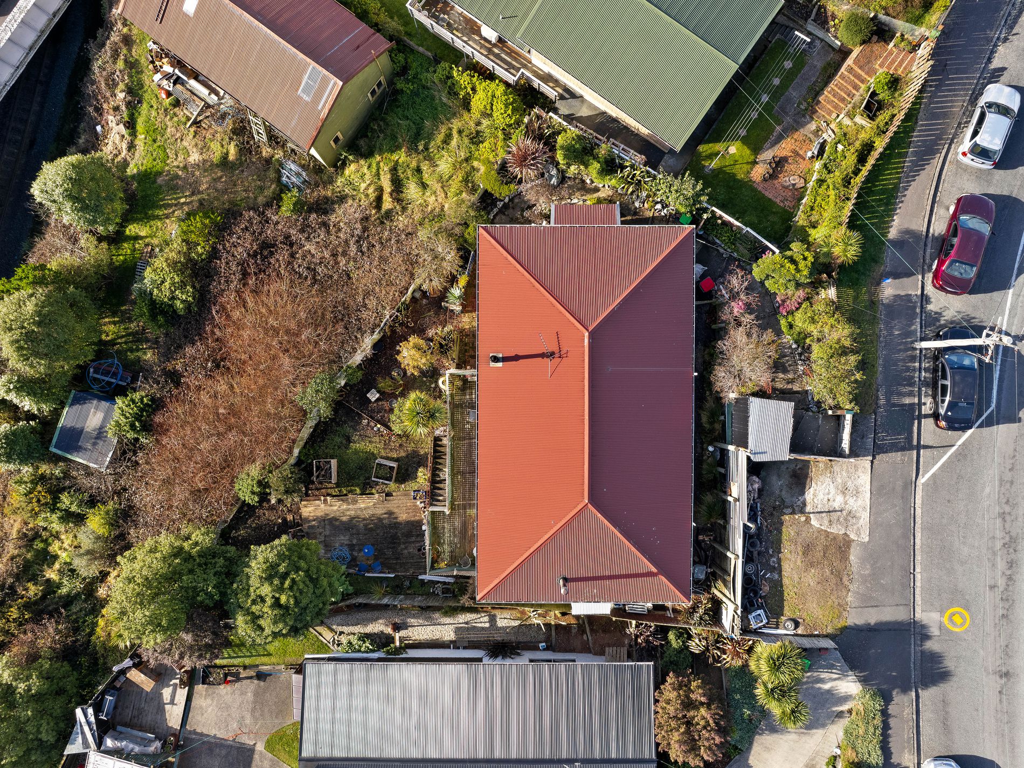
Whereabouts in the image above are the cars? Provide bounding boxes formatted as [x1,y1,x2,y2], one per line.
[930,193,993,298]
[957,80,1022,172]
[924,759,961,768]
[931,331,982,430]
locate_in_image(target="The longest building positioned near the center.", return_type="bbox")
[474,202,697,615]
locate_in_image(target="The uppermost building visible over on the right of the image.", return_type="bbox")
[450,0,787,159]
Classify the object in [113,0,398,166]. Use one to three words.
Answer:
shed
